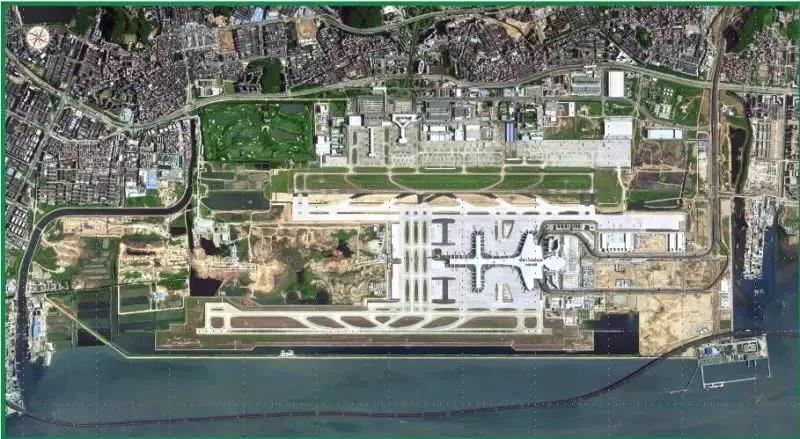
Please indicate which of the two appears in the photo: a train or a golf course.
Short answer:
golf course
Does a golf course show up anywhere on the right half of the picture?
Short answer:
No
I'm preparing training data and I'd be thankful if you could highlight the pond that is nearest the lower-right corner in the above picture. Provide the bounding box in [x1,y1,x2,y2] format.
[594,312,638,354]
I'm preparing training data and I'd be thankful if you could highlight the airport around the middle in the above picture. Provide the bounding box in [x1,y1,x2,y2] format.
[155,114,684,352]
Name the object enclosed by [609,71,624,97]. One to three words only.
building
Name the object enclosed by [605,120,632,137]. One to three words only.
building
